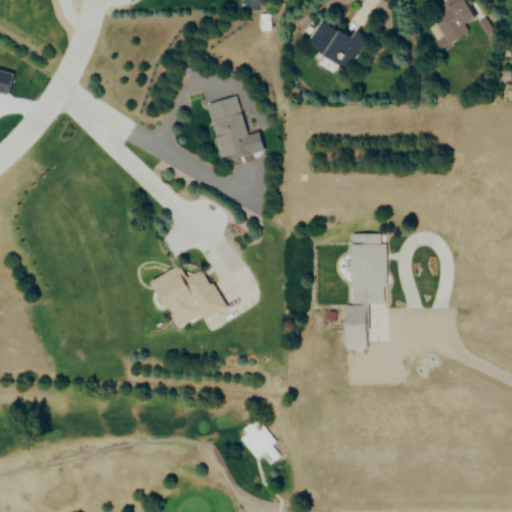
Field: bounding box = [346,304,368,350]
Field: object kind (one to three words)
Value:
building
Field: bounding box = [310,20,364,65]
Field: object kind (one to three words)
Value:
house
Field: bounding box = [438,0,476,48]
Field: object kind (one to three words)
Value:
house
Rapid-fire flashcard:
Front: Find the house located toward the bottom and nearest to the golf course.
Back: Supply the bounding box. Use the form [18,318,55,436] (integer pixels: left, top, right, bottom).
[241,422,282,465]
